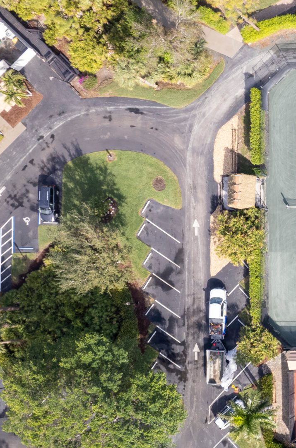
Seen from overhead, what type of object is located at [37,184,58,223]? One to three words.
car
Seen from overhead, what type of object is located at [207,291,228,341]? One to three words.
vehicle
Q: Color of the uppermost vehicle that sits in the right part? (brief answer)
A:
white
